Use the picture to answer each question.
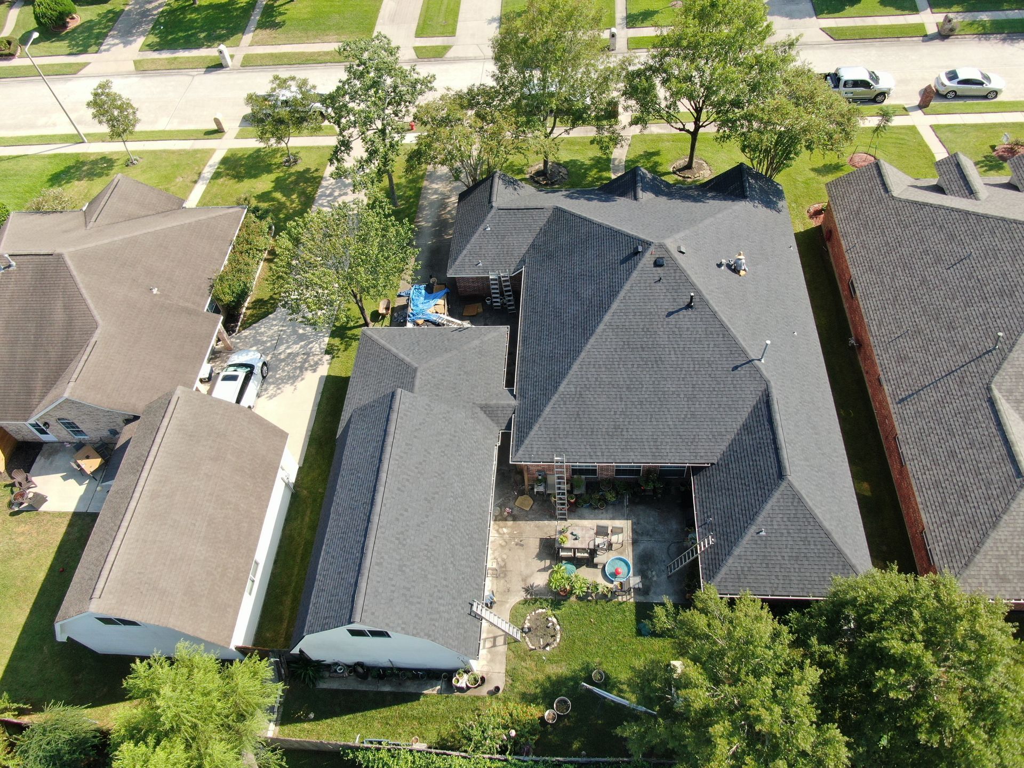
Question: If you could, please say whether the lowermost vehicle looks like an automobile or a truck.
automobile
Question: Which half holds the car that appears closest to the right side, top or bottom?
top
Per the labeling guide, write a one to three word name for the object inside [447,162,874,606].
house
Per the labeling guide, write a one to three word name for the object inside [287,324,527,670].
building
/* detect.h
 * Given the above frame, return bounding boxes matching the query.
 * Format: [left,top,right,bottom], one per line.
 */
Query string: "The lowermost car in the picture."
[210,352,264,411]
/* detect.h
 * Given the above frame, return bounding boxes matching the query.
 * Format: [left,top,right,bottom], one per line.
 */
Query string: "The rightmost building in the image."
[820,151,1024,606]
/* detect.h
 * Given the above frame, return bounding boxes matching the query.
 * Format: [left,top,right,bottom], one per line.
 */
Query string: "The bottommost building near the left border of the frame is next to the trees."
[50,386,300,660]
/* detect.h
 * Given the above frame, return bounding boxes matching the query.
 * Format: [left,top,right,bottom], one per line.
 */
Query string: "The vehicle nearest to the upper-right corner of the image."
[930,71,1007,102]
